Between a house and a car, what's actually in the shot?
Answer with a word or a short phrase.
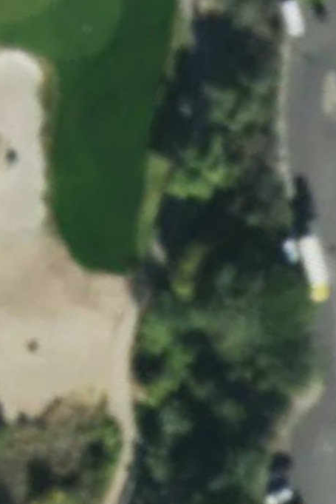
car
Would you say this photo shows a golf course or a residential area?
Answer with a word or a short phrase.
golf course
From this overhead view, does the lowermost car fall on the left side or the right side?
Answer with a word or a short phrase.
right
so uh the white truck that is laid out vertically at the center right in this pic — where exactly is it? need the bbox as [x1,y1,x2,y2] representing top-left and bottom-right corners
[299,236,330,303]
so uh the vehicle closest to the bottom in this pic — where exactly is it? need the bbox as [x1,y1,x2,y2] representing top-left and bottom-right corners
[264,484,296,504]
